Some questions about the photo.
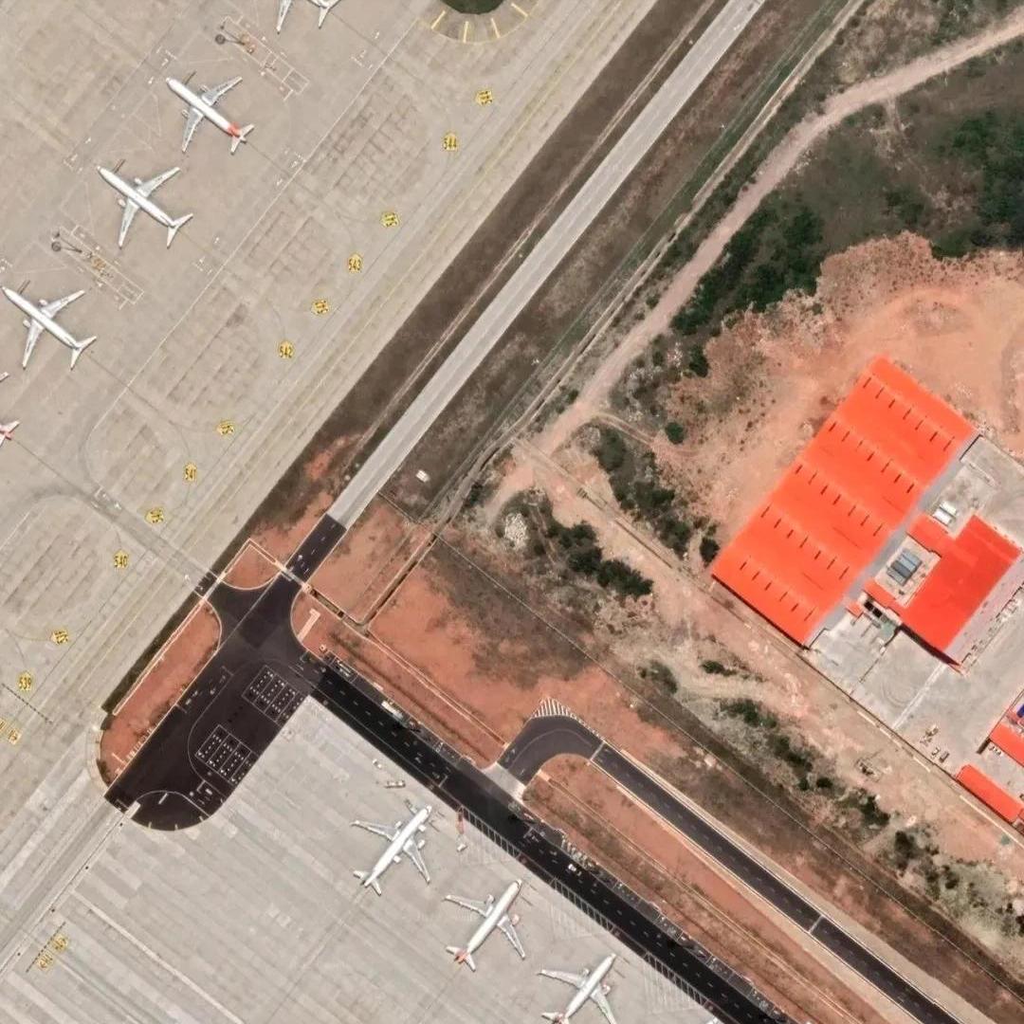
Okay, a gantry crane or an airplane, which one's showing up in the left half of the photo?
airplane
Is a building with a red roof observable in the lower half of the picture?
Yes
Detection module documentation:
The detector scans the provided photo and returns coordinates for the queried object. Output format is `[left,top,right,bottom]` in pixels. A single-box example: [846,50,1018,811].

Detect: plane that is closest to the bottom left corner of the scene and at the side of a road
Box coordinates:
[350,807,431,894]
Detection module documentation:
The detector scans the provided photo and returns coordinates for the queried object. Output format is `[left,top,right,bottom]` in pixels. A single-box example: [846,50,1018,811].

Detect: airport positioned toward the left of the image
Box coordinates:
[0,0,730,1024]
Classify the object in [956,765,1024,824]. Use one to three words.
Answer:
shed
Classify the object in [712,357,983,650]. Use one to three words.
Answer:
building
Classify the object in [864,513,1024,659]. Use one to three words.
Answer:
building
